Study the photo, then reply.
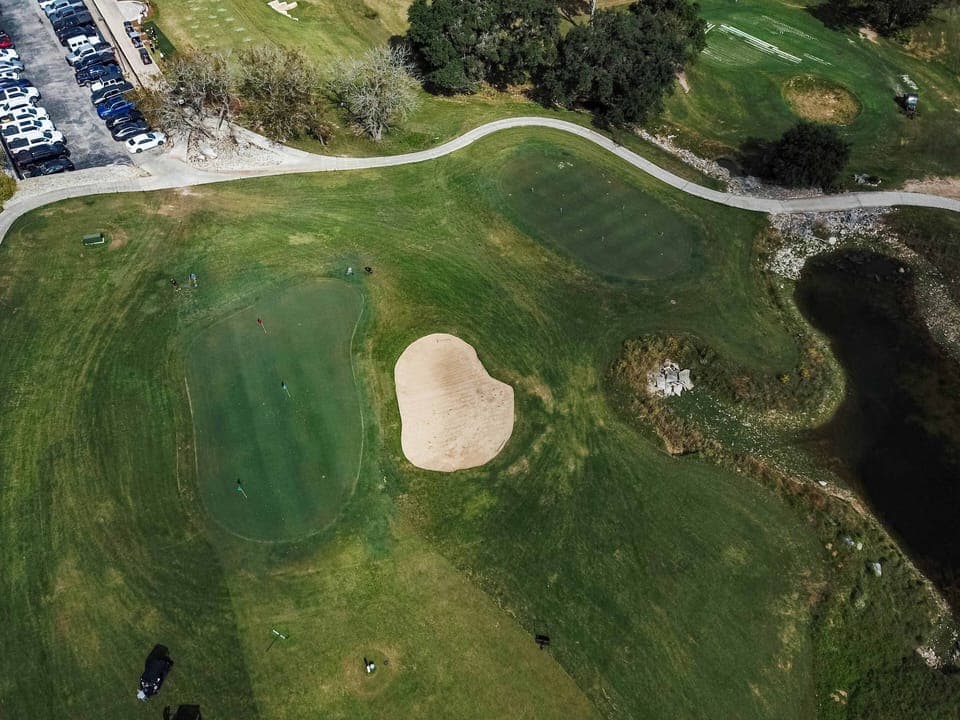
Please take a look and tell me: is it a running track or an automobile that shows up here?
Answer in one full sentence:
There is an automobile in the scene.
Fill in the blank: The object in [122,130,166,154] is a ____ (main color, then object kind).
white car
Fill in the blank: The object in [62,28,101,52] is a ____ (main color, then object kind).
white car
